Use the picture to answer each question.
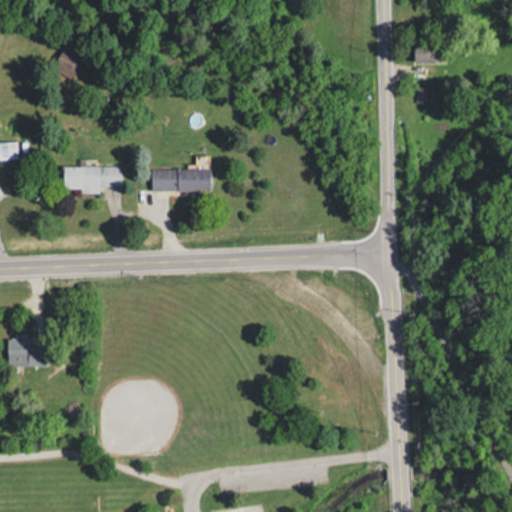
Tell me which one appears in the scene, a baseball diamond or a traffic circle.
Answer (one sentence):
I can see a baseball diamond in this picture.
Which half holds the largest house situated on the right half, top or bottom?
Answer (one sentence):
The top half of the photo is where the largest house situated on the right half is.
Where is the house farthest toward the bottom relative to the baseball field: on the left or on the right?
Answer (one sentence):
The house farthest toward the bottom appears to the left of the baseball field in this view.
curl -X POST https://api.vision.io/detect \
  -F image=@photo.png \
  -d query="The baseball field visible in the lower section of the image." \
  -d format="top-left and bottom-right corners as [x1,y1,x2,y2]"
[98,294,260,464]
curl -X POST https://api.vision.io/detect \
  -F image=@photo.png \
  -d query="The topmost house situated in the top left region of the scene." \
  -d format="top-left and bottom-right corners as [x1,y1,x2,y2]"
[56,52,80,79]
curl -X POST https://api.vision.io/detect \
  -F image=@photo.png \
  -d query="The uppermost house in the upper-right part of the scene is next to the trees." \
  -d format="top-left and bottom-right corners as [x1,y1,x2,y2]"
[414,46,447,66]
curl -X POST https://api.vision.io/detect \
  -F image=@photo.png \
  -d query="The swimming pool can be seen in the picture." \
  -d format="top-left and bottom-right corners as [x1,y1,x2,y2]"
[190,113,208,128]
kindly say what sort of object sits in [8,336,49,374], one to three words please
house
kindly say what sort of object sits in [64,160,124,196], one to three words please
house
